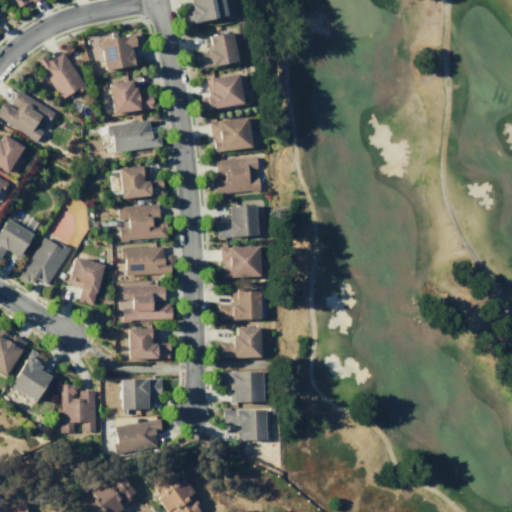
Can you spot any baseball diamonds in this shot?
No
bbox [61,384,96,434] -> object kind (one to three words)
house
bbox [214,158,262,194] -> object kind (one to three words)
house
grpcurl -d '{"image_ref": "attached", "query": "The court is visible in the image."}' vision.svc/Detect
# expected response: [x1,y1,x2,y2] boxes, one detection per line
[50,200,88,249]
